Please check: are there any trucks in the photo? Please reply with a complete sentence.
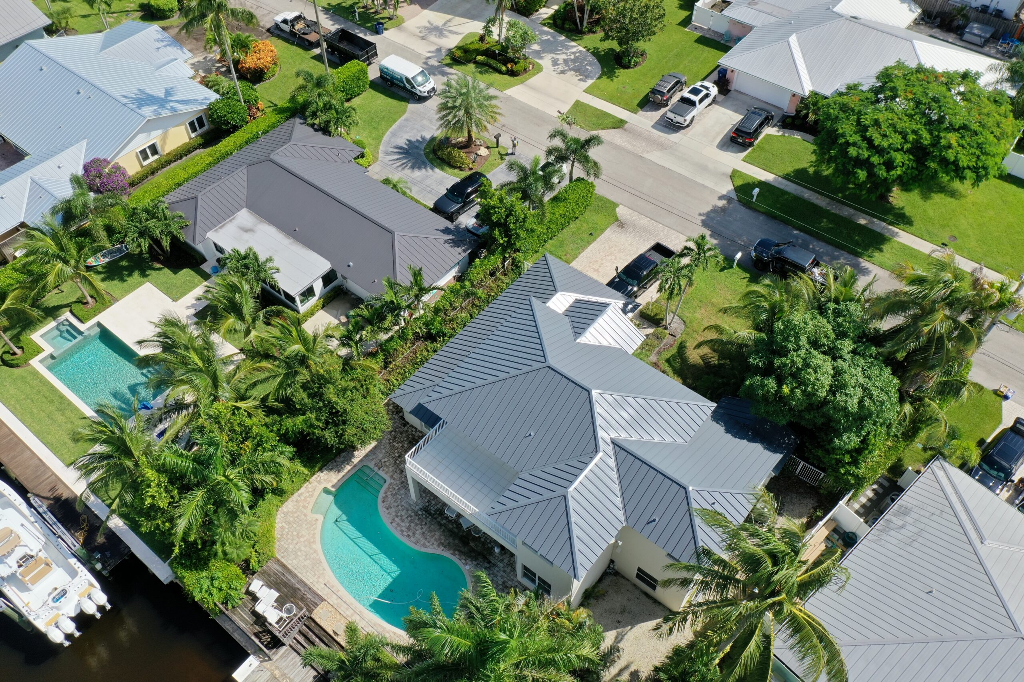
Yes, you can see a truck in this photo.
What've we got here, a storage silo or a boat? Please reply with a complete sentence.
The image shows a boat.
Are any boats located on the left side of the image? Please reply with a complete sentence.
Yes, there is a boat on the left side of the image.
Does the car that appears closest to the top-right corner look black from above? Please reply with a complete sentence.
Yes, the car that appears closest to the top-right corner is black.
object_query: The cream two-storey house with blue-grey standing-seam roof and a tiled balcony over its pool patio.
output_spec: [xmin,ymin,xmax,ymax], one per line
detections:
[388,252,792,612]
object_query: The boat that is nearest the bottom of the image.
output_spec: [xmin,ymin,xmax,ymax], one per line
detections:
[224,646,265,682]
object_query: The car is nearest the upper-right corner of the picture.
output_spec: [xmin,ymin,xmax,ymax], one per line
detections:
[730,107,777,147]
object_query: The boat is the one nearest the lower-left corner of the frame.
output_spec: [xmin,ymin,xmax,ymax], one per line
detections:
[0,487,99,635]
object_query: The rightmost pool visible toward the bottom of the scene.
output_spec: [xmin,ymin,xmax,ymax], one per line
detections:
[321,465,469,629]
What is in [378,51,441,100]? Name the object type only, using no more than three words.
van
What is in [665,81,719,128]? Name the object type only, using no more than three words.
truck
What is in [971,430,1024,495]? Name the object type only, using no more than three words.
car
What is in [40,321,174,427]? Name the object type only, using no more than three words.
swimming pool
